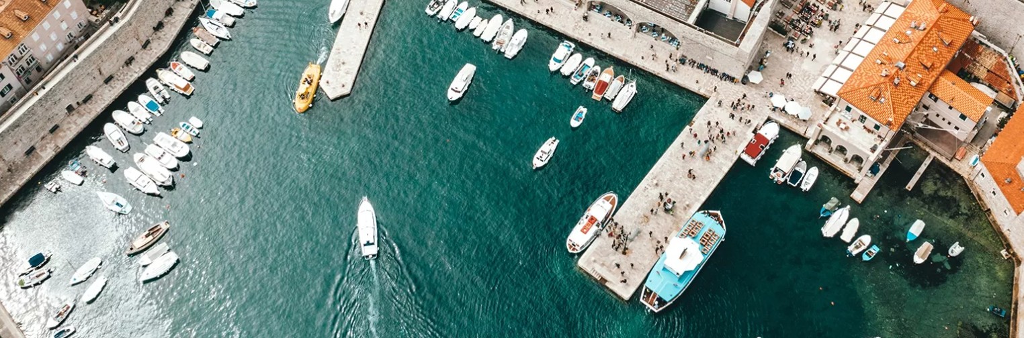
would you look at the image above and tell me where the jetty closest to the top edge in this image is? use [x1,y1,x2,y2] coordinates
[320,0,386,104]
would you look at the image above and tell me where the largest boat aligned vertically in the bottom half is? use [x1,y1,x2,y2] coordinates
[357,194,379,264]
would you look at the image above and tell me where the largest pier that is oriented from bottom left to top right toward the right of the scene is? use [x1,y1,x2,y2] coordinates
[579,98,768,303]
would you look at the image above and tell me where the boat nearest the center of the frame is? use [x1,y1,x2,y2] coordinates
[532,135,561,169]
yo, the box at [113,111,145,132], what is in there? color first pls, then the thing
white boat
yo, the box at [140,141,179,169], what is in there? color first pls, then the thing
white boat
